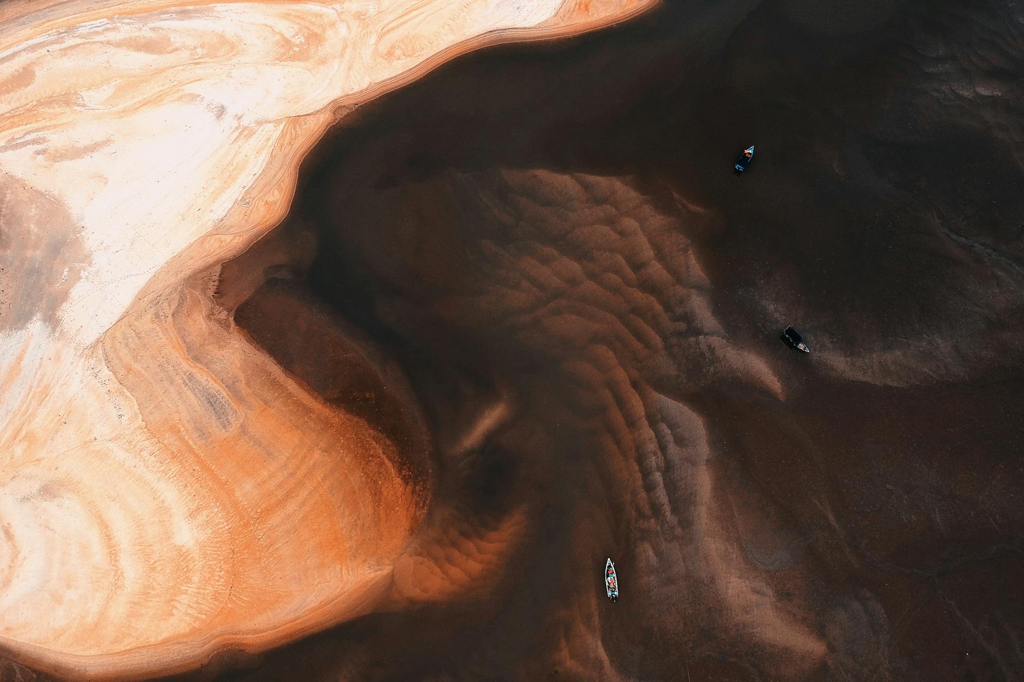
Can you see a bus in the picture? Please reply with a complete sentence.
No, I can't see a single bus in this photo.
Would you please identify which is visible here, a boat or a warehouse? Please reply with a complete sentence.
Of the two, only a boat appears.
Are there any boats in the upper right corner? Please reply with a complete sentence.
Yes, a boat appears in the upper right corner.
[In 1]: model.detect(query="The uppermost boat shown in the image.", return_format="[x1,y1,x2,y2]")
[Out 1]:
[735,144,755,172]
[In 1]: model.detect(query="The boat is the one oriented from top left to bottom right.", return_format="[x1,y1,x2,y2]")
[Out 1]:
[784,325,811,352]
